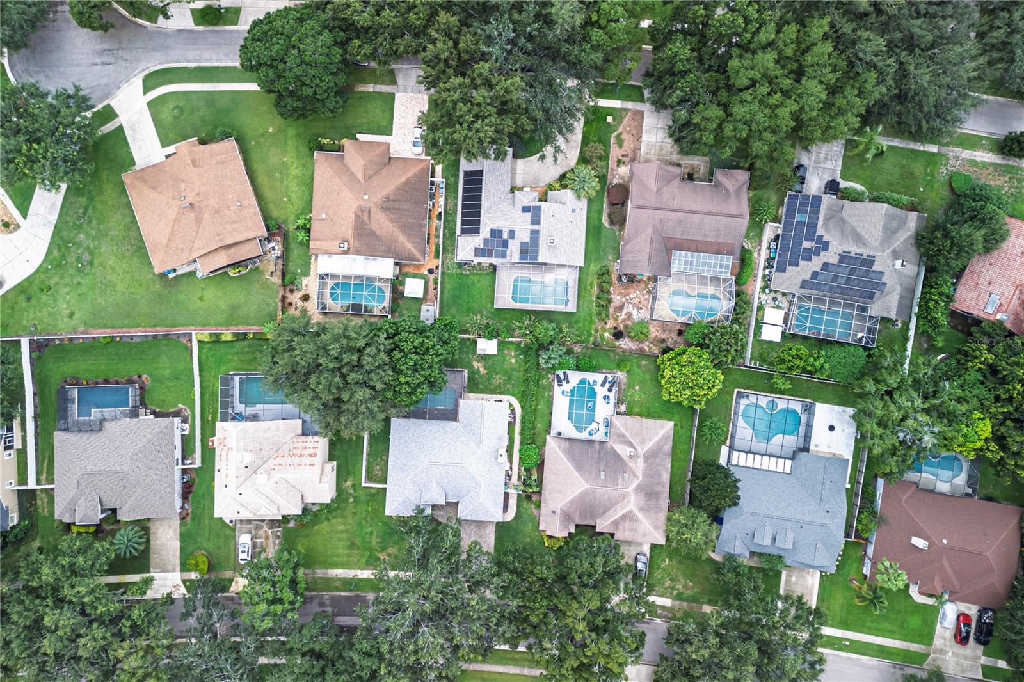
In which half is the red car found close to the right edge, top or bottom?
bottom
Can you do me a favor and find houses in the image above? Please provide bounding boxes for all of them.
[121,137,271,274]
[713,450,849,573]
[539,415,674,545]
[619,161,750,278]
[204,419,339,520]
[862,479,1024,609]
[54,417,184,524]
[385,399,509,522]
[455,145,587,266]
[309,141,431,278]
[769,192,928,321]
[0,427,24,531]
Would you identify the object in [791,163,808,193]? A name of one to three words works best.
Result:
car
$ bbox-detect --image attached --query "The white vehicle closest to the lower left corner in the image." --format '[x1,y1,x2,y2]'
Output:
[235,532,252,565]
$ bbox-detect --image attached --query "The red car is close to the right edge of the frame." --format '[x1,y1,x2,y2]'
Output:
[953,612,973,646]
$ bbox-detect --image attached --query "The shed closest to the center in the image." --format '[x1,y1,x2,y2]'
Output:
[476,338,498,355]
